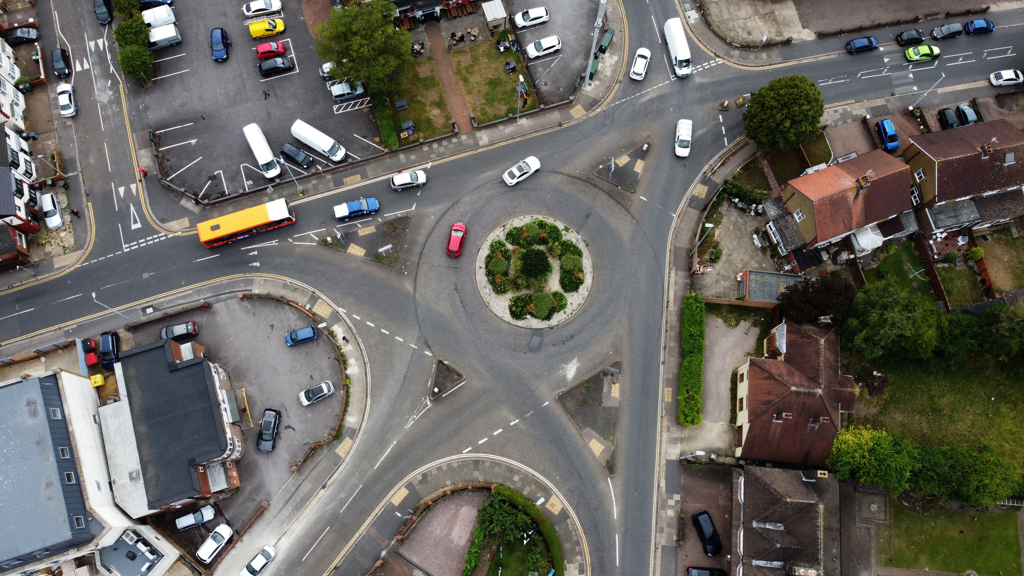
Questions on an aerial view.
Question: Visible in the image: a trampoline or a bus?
bus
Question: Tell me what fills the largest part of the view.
paved ground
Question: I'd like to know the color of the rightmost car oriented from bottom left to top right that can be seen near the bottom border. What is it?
white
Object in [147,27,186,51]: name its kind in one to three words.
vehicle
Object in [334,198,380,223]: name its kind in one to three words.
truck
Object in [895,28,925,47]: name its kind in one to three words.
car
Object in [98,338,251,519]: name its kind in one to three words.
building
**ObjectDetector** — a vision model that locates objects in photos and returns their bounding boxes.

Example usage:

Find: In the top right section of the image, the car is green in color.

[904,44,940,63]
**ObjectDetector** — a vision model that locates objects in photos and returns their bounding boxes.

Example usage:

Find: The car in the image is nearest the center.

[447,223,466,258]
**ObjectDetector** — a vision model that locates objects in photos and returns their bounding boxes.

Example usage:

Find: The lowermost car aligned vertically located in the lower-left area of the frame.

[255,408,282,452]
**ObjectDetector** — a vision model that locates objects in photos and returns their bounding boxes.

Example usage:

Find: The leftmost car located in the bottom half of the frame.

[98,331,120,371]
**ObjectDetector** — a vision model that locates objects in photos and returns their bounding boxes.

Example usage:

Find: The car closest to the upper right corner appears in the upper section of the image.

[965,20,994,38]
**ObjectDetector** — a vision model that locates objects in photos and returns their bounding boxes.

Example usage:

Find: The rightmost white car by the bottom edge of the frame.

[240,543,278,576]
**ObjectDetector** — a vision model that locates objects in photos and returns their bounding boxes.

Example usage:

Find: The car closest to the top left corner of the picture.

[7,27,40,47]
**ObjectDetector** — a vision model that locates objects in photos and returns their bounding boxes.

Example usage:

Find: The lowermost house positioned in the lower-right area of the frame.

[726,466,840,576]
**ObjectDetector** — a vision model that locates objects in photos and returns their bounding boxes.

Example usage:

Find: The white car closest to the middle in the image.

[502,157,541,186]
